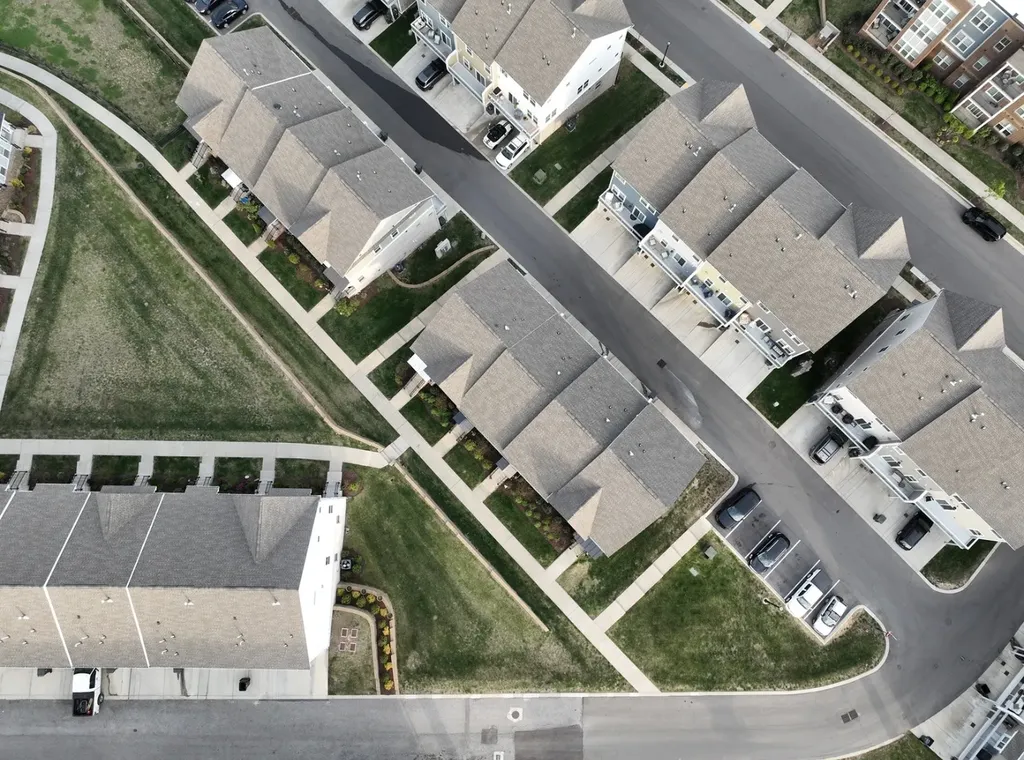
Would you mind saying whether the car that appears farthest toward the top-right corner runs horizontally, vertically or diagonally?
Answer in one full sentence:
The car that appears farthest toward the top-right corner runs diagonally in the image.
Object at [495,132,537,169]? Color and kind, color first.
white car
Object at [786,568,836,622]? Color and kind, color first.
white truck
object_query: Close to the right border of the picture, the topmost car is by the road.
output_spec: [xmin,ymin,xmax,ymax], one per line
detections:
[963,205,1012,247]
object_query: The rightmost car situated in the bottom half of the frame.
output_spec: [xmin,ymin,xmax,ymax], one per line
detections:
[899,513,940,554]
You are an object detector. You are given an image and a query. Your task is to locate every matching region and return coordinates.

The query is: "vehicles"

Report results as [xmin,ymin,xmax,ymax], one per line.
[811,425,853,467]
[749,531,795,577]
[71,668,103,719]
[812,596,854,641]
[786,568,836,622]
[717,486,761,532]
[899,513,940,554]
[412,53,449,88]
[349,0,388,25]
[480,114,512,146]
[206,0,248,28]
[495,132,537,169]
[963,205,1012,247]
